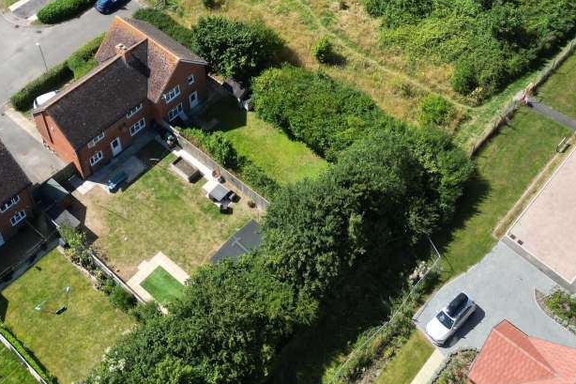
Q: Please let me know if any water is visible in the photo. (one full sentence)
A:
No, water can't be seen anywhere here.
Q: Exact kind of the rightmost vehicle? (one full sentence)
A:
From above, the rightmost vehicle can be identified as a car.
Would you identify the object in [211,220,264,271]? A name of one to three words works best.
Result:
shed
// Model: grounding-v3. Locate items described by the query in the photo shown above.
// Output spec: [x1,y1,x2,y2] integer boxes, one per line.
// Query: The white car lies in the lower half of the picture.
[423,288,480,347]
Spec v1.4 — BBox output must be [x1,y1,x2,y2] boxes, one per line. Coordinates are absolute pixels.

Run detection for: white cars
[423,288,480,347]
[26,88,65,123]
